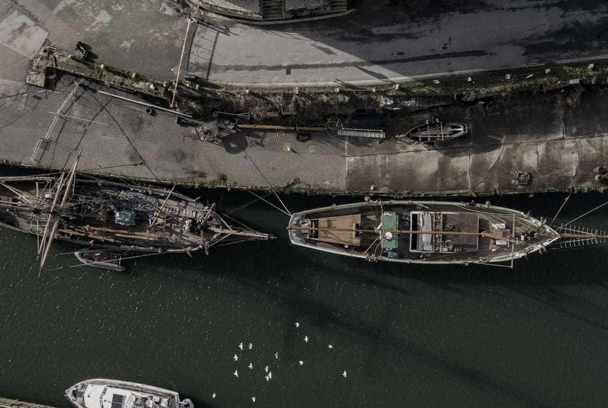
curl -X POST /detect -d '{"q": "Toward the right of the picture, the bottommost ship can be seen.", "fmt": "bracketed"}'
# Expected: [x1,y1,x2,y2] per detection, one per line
[287,195,608,268]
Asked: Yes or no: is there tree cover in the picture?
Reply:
No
